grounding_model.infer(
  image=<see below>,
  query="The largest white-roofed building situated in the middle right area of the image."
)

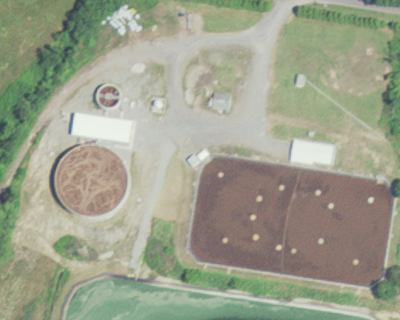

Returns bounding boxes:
[291,138,336,166]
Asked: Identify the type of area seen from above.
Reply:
industrial area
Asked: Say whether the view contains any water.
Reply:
Yes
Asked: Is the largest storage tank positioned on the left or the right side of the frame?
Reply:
left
